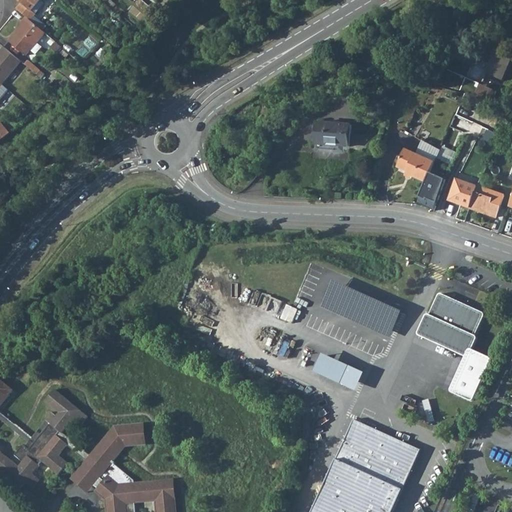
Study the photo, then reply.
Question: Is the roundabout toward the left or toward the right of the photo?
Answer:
left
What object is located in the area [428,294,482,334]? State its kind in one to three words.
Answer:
building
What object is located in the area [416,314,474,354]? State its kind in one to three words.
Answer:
building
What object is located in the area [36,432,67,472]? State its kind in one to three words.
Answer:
house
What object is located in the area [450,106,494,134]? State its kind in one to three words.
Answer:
house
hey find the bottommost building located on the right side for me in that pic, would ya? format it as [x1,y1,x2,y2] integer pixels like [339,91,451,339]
[311,420,421,512]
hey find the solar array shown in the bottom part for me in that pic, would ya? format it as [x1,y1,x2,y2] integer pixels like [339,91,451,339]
[322,280,400,336]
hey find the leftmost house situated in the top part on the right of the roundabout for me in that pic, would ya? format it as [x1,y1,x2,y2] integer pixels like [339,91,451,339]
[303,120,349,147]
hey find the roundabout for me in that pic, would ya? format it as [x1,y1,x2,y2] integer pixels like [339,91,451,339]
[124,107,208,190]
